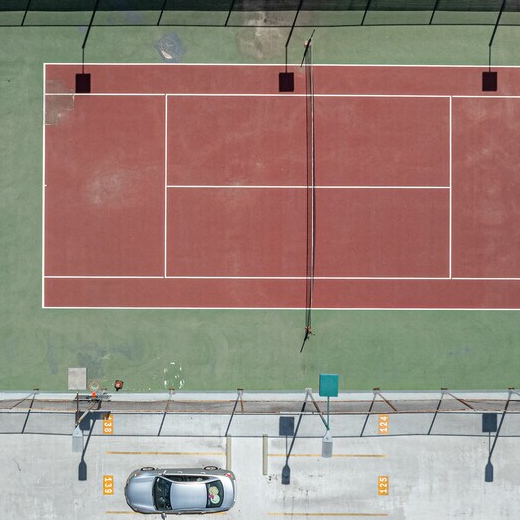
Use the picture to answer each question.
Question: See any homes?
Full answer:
No, the frame has no home in it.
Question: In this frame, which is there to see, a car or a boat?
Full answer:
Of the two, only a car appears.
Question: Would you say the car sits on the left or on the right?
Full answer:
The car is on the left side of the image.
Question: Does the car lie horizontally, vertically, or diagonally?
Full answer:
The car has been laid out horizontally relative to the frame.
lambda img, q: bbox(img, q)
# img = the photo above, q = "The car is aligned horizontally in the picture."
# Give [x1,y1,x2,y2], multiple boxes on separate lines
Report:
[127,467,234,519]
